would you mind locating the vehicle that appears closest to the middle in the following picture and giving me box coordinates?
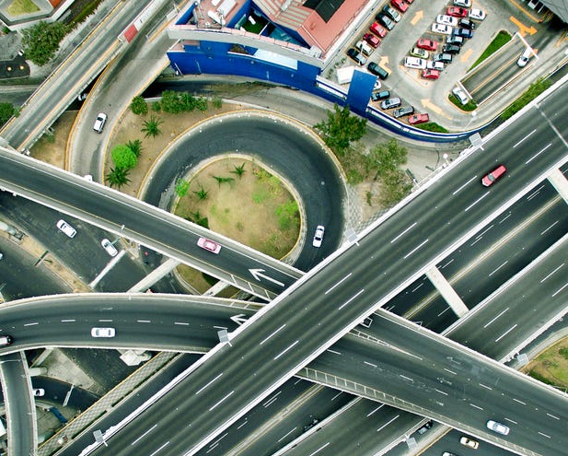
[312,225,325,249]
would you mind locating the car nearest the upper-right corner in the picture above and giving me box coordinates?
[516,46,532,69]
